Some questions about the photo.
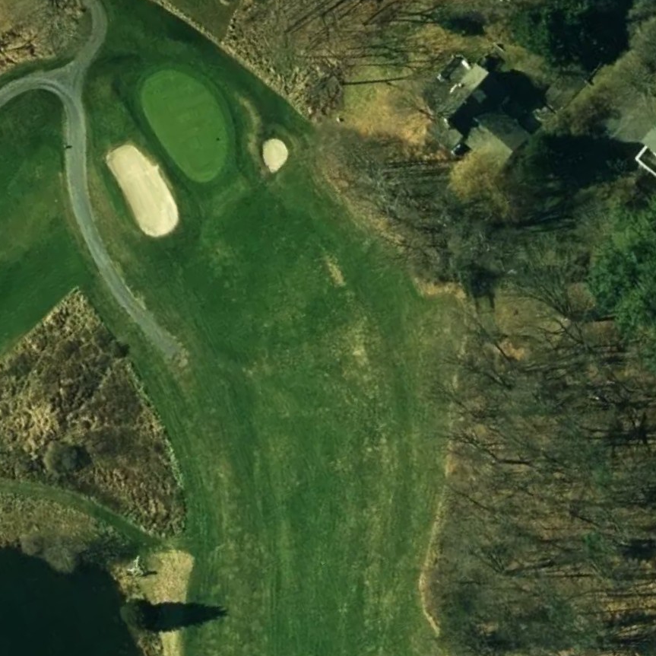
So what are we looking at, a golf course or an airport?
golf course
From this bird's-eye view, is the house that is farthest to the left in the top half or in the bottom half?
top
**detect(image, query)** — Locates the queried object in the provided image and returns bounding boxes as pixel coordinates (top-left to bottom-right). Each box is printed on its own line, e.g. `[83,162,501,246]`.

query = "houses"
[633,130,656,176]
[436,55,532,172]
